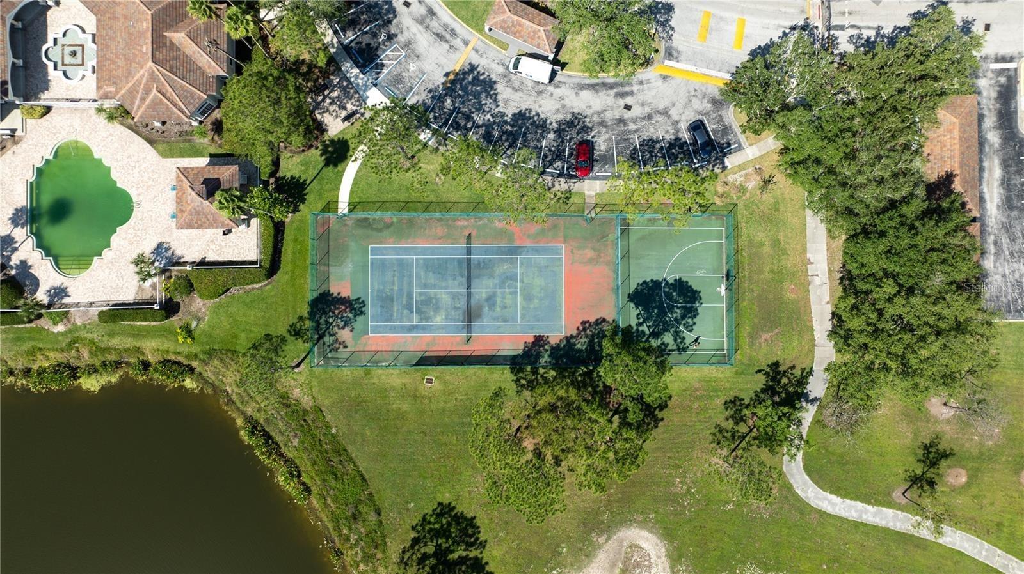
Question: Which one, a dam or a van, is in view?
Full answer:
The one in the frame is a van.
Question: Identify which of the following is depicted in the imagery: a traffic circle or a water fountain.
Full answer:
There is a water fountain in the scene.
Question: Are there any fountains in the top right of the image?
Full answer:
No, the scene shows no fountain in the top right of the image.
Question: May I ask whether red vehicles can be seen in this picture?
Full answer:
Yes, you can see a red vehicle in this photo.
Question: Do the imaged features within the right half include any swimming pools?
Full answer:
No, the scene shows no swimming pool within the right half.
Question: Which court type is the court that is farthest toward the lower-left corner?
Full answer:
I'd identify the court that is farthest toward the lower-left corner as a tennis court.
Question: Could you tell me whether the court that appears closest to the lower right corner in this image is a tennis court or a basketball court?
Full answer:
It turns out the court that appears closest to the lower right corner is a basketball court.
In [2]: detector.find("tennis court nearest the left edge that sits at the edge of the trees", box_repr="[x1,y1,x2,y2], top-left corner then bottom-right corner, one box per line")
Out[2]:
[318,215,618,365]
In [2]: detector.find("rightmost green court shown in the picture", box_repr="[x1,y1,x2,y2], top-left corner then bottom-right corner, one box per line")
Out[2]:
[618,217,727,364]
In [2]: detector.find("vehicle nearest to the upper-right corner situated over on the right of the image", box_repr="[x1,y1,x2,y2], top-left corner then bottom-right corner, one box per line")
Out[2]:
[688,116,714,158]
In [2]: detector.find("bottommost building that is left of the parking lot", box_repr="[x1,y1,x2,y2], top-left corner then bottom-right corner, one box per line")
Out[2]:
[175,164,244,230]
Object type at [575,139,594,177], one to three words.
car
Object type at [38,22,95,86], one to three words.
fountain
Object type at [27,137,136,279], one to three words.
swimming pool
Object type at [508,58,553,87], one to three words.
van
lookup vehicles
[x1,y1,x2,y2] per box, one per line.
[508,58,553,87]
[688,116,714,158]
[575,139,594,177]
